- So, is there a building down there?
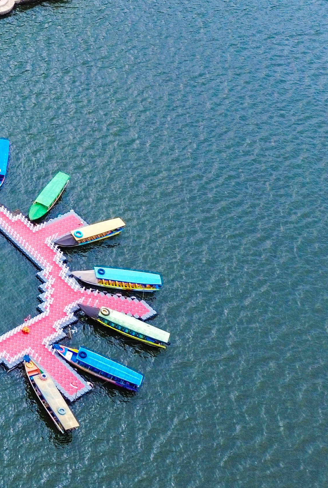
No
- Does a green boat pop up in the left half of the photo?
Yes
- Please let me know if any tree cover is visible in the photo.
No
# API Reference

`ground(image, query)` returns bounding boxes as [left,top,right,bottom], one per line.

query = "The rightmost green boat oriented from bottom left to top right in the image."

[32,164,73,220]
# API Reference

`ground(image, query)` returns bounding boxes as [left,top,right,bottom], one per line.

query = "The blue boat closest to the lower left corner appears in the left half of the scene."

[53,341,145,386]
